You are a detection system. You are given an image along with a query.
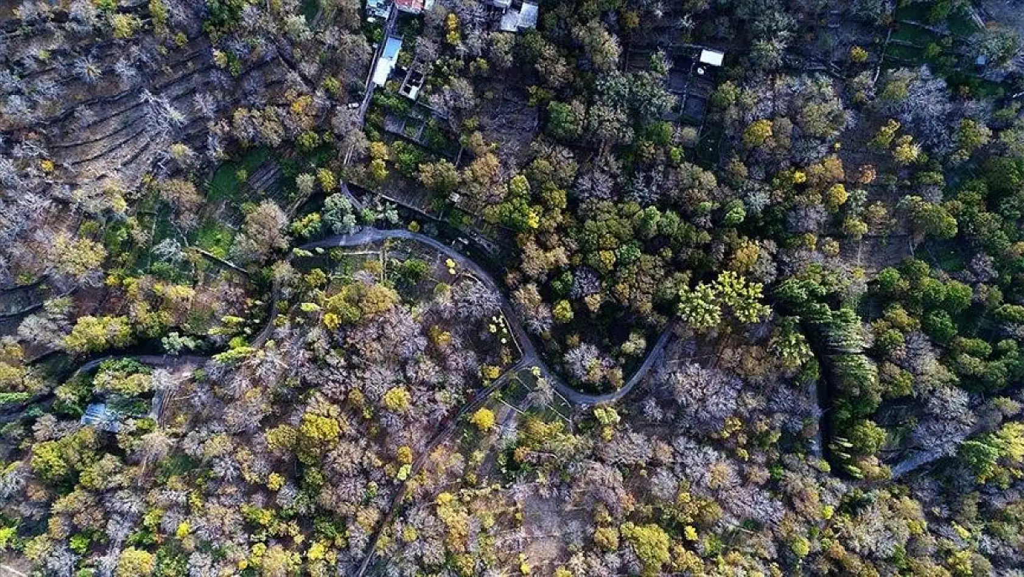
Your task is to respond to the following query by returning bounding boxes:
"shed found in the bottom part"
[81,402,122,432]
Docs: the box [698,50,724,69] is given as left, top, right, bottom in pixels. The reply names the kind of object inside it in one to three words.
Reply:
house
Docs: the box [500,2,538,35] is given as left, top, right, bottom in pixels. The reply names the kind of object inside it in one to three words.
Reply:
house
